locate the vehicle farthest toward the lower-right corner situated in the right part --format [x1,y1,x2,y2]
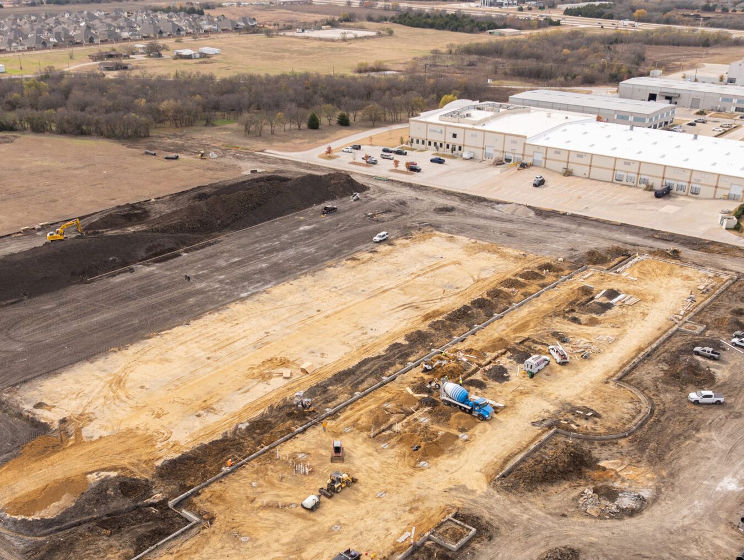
[686,388,729,405]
